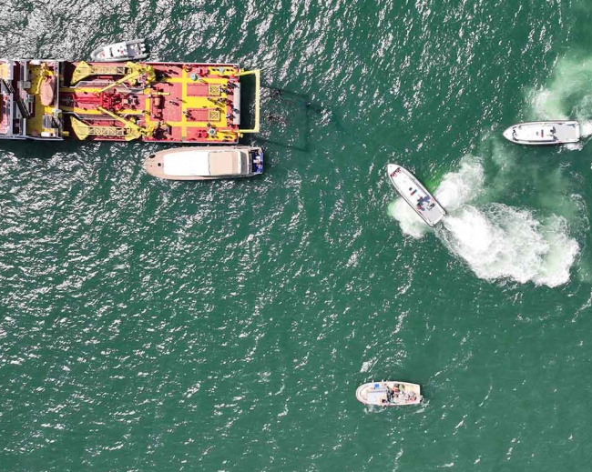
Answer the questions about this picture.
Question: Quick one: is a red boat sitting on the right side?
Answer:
No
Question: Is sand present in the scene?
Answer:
No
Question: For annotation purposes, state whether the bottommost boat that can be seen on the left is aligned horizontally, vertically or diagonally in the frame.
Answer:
horizontally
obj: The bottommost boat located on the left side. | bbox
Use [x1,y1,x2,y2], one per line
[142,145,264,180]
